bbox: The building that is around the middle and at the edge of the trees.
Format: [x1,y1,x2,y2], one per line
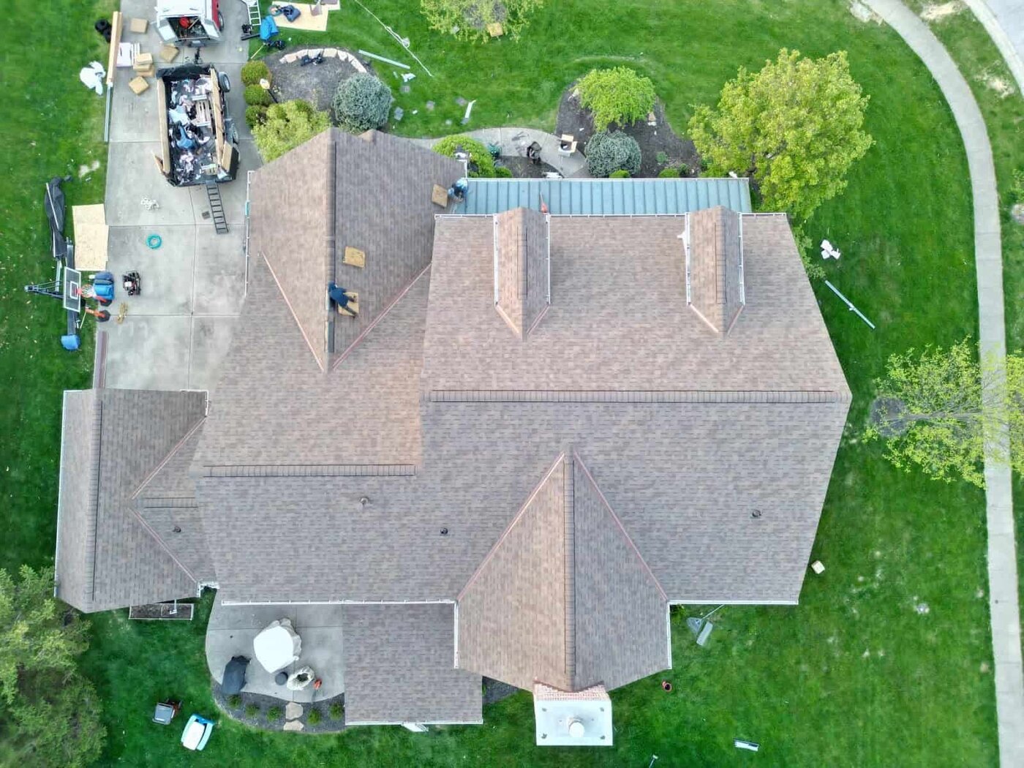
[52,128,851,747]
